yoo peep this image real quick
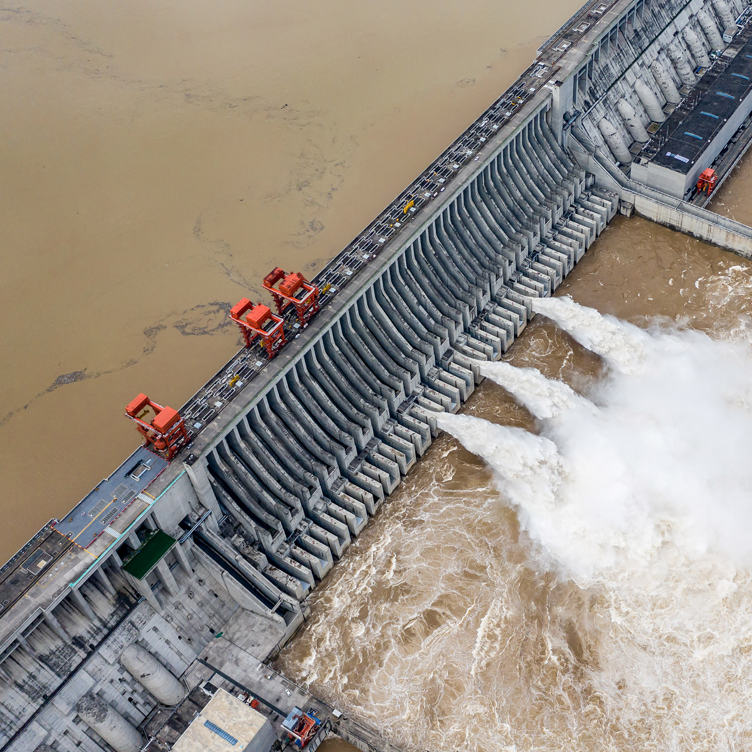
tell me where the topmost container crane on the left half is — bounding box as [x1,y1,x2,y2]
[260,265,321,328]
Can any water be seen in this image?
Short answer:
Yes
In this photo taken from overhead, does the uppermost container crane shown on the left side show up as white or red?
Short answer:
red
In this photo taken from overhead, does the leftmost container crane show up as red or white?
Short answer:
red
